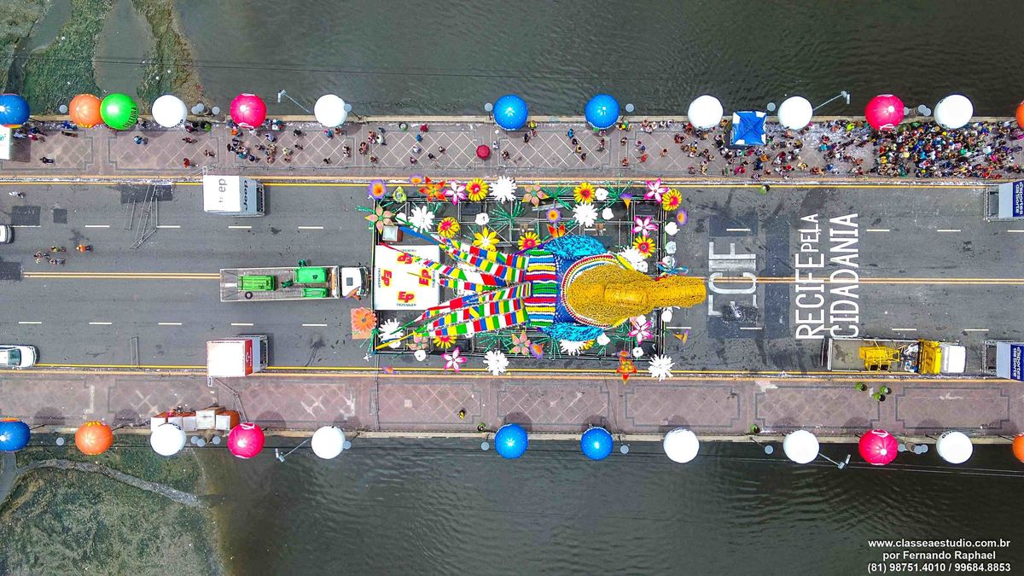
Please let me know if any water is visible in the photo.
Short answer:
Yes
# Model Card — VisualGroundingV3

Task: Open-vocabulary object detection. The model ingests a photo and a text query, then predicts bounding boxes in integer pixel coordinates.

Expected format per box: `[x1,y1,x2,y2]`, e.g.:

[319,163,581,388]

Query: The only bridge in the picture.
[0,114,1024,445]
